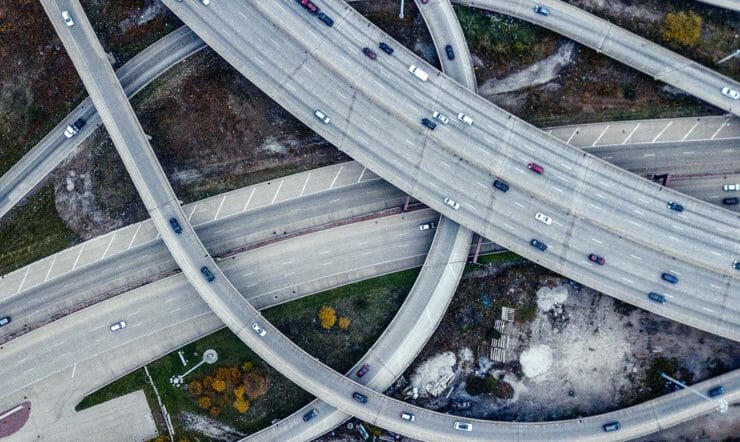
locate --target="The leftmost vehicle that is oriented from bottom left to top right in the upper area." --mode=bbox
[66,119,84,136]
